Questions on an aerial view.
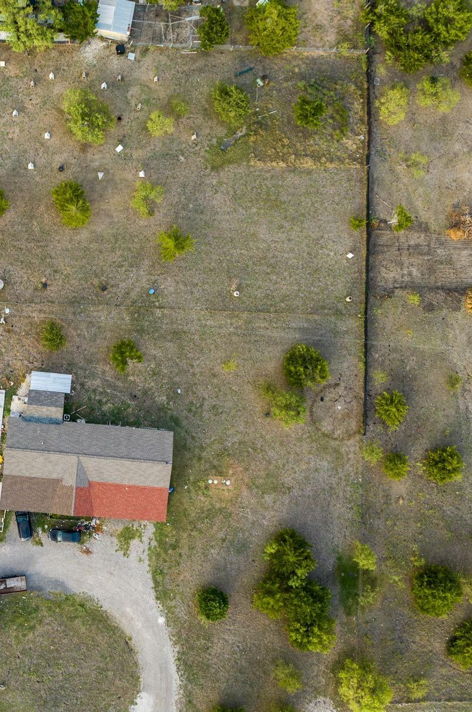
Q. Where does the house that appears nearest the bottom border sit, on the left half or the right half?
left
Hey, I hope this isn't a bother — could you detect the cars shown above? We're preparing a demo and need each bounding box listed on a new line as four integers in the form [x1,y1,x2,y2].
[14,512,31,543]
[48,528,81,543]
